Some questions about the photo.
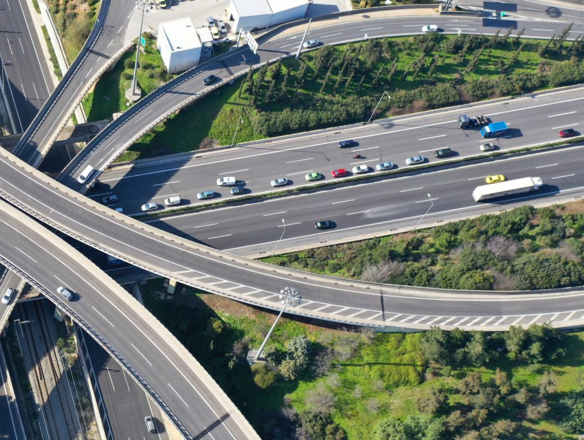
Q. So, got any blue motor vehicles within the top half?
Yes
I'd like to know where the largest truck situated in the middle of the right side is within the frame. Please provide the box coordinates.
[479,176,545,201]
